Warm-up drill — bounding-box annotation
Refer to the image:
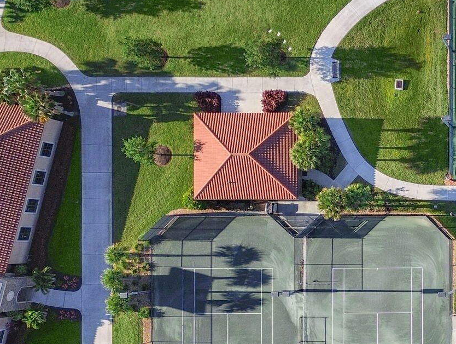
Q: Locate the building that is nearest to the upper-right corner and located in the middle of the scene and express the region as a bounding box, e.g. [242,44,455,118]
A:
[194,112,302,200]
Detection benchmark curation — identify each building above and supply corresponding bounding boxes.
[0,103,62,344]
[194,112,302,200]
